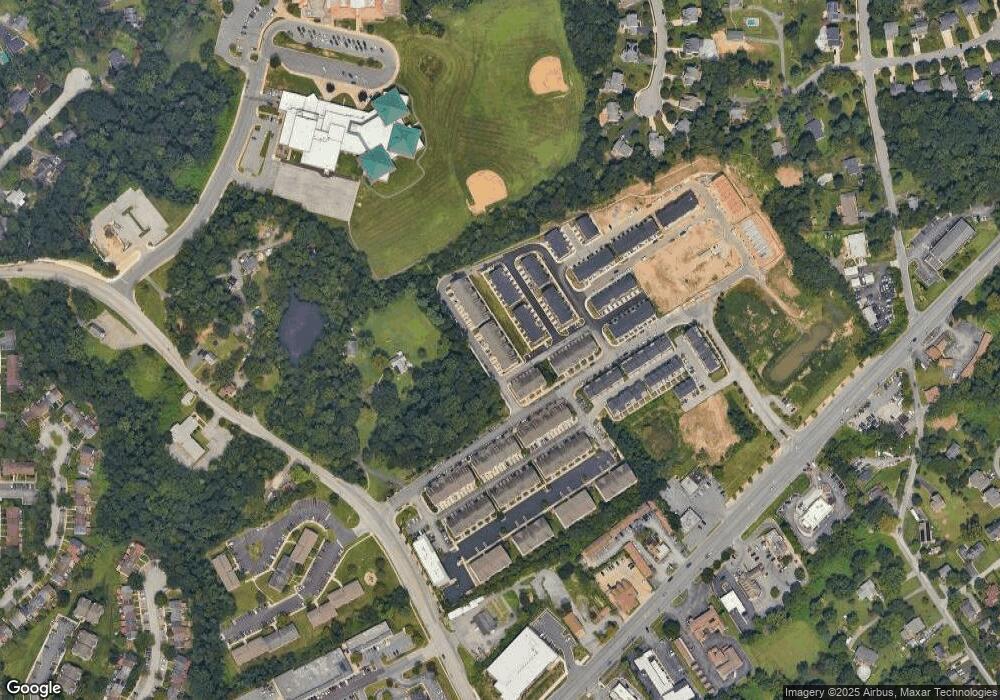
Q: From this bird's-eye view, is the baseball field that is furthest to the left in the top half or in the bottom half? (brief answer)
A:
top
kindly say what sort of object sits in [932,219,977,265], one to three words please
barn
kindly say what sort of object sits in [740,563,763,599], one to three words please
building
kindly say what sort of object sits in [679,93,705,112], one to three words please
house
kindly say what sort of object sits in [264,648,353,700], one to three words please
building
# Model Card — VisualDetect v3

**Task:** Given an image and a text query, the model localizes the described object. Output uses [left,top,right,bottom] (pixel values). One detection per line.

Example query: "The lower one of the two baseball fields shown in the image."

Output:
[466,170,508,217]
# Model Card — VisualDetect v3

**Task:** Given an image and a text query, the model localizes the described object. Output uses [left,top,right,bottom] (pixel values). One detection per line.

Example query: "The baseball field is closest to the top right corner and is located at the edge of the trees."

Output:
[530,57,572,98]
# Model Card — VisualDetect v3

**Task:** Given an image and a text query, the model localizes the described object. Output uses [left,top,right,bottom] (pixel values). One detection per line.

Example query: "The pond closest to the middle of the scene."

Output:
[279,297,326,364]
